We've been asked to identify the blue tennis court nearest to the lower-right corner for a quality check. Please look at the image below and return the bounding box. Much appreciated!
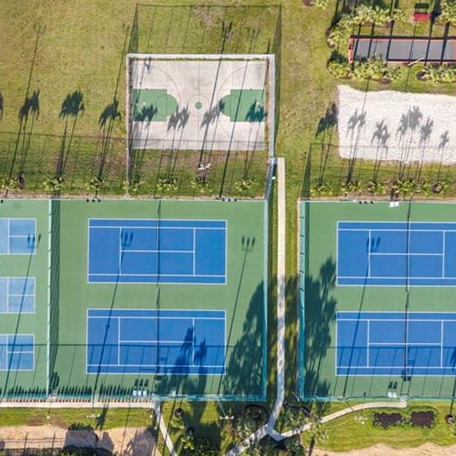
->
[336,306,456,383]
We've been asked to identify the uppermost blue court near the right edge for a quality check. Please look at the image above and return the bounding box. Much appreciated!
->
[337,216,456,292]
